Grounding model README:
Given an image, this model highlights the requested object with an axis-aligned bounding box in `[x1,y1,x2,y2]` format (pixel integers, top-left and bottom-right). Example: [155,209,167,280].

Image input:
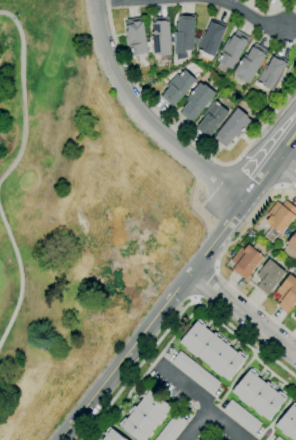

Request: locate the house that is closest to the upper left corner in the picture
[128,20,148,55]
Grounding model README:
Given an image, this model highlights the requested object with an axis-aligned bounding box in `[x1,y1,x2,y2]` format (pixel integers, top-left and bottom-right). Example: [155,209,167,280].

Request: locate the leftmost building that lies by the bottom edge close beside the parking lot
[120,392,170,440]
